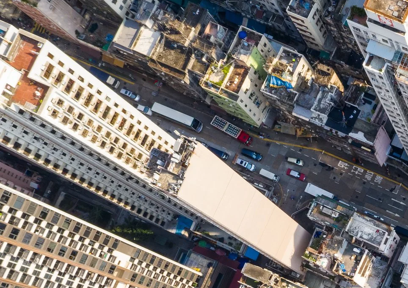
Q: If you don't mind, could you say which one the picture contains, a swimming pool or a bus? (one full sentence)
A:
Visible in the photo is a bus.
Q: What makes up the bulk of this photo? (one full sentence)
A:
What you mostly see from above here is buildings.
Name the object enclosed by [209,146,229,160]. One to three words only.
car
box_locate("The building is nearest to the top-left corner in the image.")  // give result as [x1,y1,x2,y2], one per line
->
[2,0,88,42]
